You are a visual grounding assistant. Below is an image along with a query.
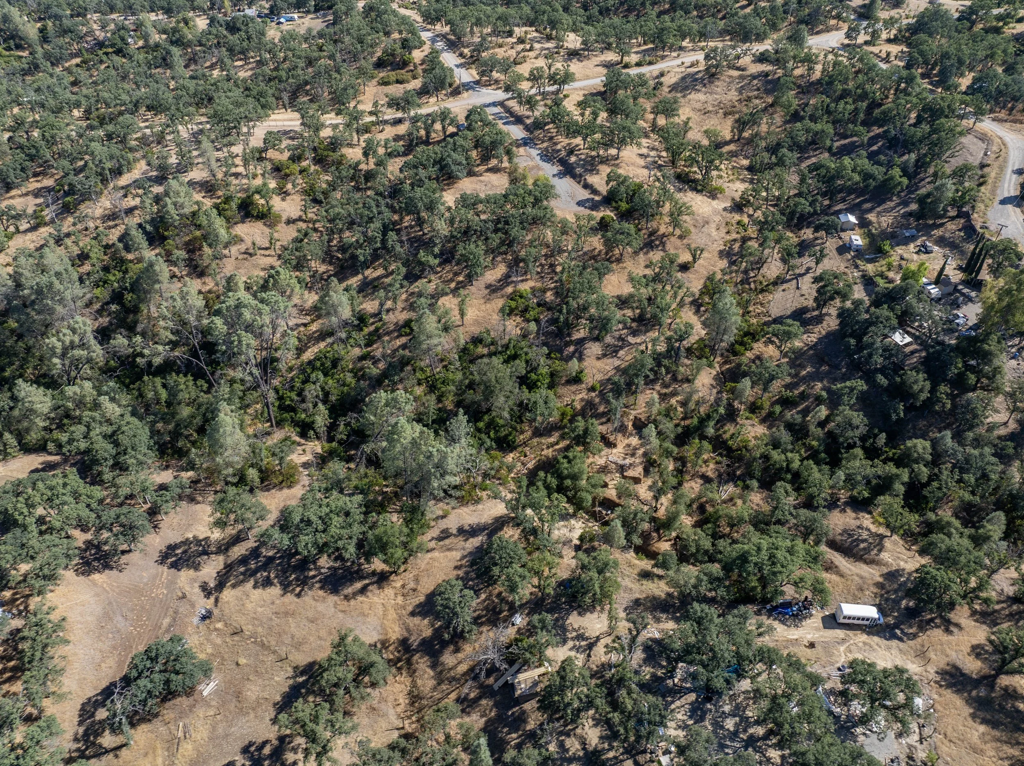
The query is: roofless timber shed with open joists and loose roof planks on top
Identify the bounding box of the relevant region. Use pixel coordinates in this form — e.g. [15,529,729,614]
[515,675,540,704]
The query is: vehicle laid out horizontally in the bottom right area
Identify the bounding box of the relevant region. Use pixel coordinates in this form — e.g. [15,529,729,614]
[831,601,886,624]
